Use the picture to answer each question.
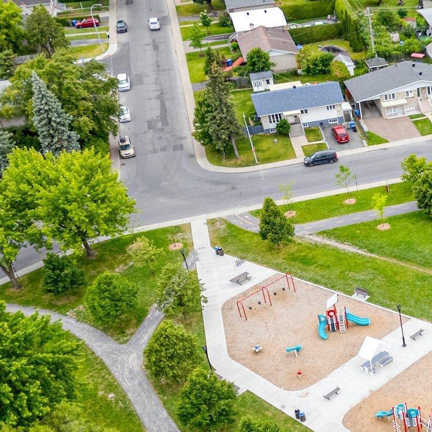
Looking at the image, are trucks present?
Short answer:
No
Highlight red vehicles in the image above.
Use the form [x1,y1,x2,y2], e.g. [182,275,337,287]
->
[333,127,349,141]
[77,15,98,27]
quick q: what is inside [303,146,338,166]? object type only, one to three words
car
